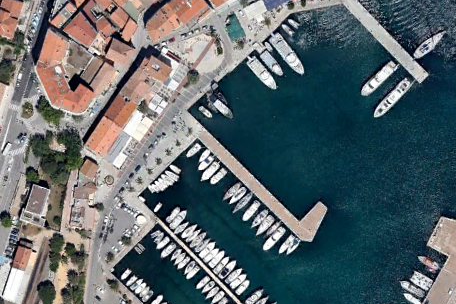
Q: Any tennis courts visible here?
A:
No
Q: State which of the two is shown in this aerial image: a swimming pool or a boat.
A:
boat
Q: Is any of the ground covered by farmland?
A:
No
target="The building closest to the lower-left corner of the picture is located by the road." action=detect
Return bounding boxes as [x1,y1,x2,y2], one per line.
[3,268,26,302]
